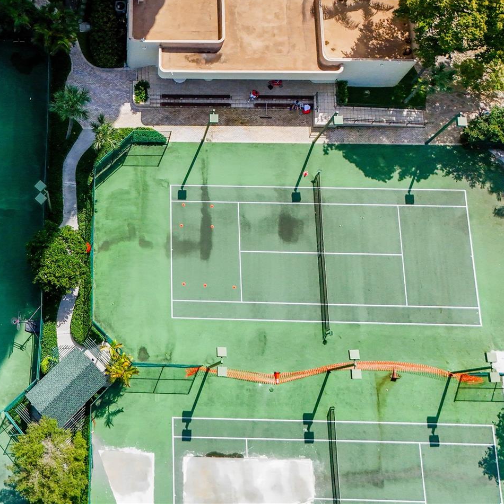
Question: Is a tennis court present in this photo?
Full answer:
Yes, the frame does contain a tennis court.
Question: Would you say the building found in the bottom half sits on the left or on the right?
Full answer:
The building found in the bottom half sits on the left side.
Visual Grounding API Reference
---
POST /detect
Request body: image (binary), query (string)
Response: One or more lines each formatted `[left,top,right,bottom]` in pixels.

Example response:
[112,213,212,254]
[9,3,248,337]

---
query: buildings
[12,331,114,432]
[126,0,416,87]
